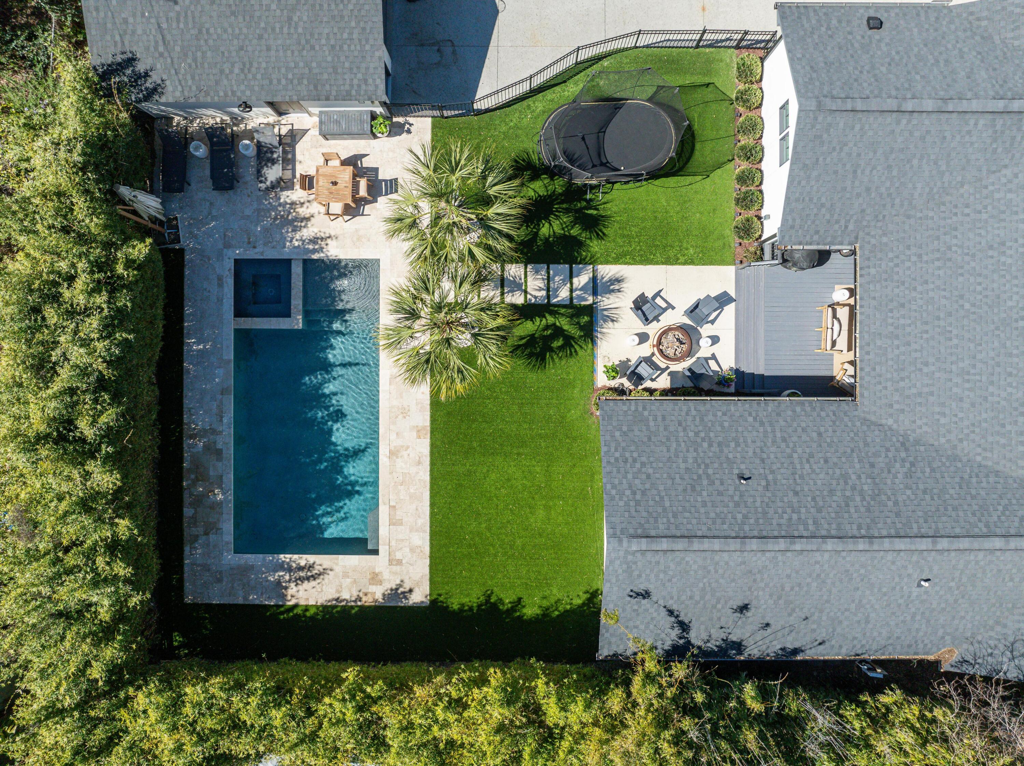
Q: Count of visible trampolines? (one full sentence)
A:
The photo contains exactly 1 trampoline.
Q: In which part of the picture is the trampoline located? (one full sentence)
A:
The trampoline sits in the top section of the image.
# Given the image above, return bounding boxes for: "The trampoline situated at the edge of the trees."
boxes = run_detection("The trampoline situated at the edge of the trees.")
[533,67,693,195]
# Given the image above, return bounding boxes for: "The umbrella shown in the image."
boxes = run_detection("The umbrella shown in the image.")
[114,183,177,245]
